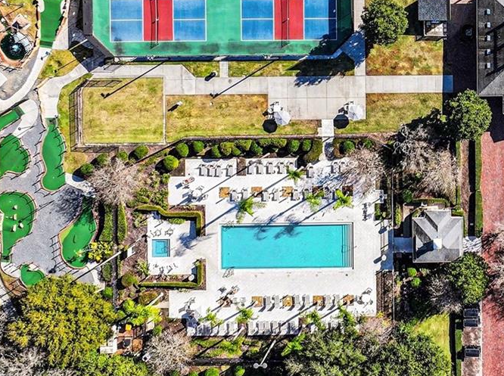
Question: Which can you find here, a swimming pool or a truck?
swimming pool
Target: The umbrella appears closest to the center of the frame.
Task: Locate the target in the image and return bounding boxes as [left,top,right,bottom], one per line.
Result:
[273,109,290,125]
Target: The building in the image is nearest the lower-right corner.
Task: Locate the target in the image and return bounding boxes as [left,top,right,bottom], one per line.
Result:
[413,209,464,262]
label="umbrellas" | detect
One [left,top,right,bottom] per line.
[273,109,290,125]
[348,104,363,121]
[181,311,198,329]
